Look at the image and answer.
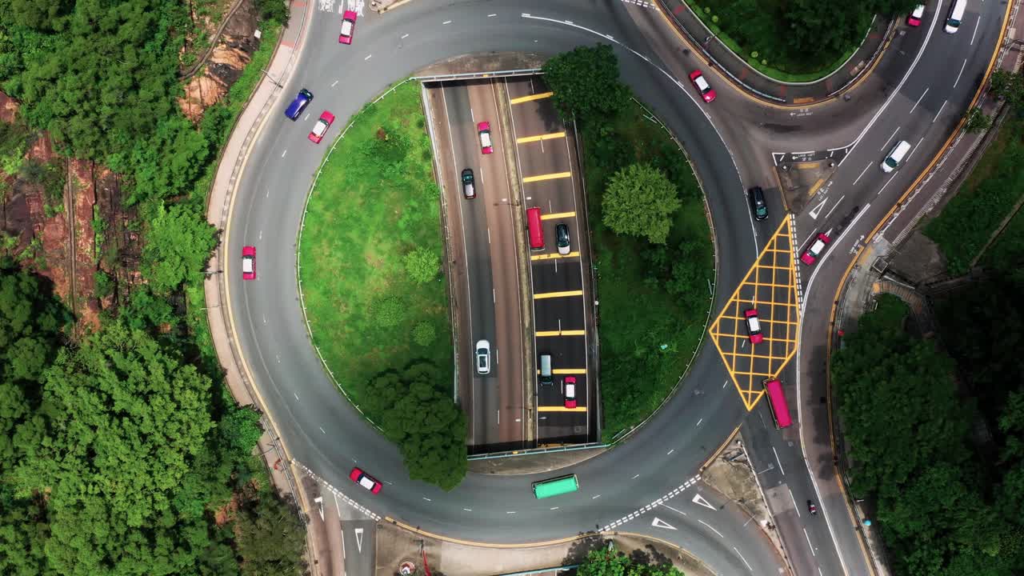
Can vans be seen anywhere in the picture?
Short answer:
Yes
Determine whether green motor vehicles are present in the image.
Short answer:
Yes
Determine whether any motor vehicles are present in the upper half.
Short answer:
Yes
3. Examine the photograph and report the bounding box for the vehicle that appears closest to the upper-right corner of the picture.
[943,0,969,32]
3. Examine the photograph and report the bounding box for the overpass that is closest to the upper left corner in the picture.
[411,63,556,87]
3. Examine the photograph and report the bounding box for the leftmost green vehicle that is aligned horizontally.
[531,472,580,500]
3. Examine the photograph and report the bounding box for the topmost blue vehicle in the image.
[283,89,313,122]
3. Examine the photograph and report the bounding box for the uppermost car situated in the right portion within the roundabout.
[689,69,714,104]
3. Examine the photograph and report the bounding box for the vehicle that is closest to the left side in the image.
[241,245,258,280]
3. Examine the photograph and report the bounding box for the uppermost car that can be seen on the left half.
[338,10,358,46]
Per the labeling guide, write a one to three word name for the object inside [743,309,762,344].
car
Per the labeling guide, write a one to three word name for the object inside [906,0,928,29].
car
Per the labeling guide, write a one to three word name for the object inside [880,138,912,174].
van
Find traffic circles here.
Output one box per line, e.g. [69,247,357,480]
[226,0,888,545]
